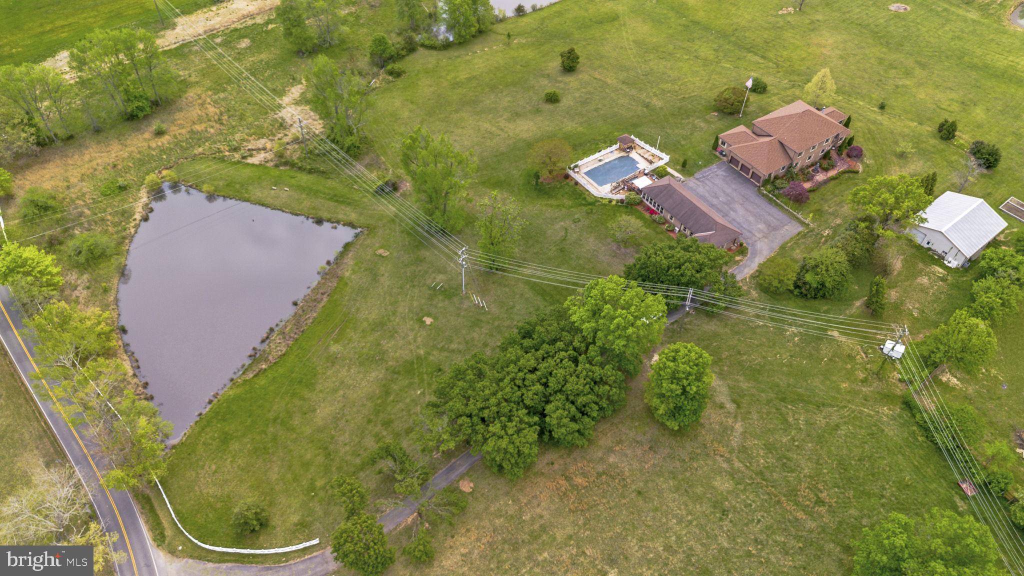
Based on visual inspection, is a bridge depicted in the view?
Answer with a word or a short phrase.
No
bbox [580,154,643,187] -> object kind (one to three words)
swimming pool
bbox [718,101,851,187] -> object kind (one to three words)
house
